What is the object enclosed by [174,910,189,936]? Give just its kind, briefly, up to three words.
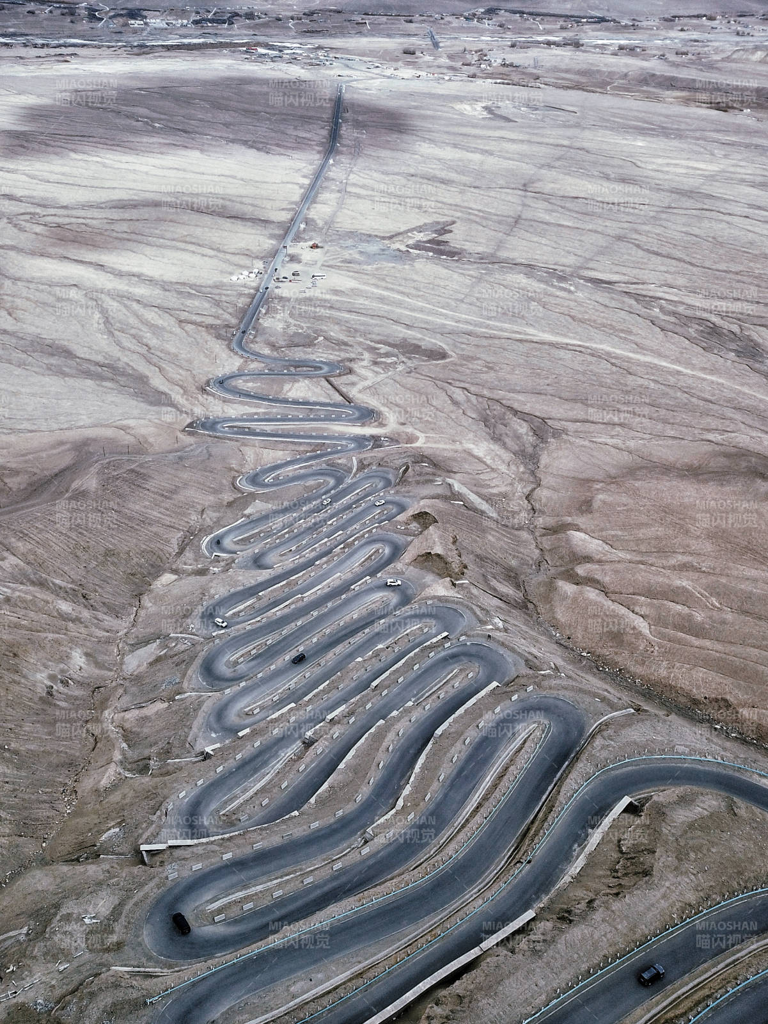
car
